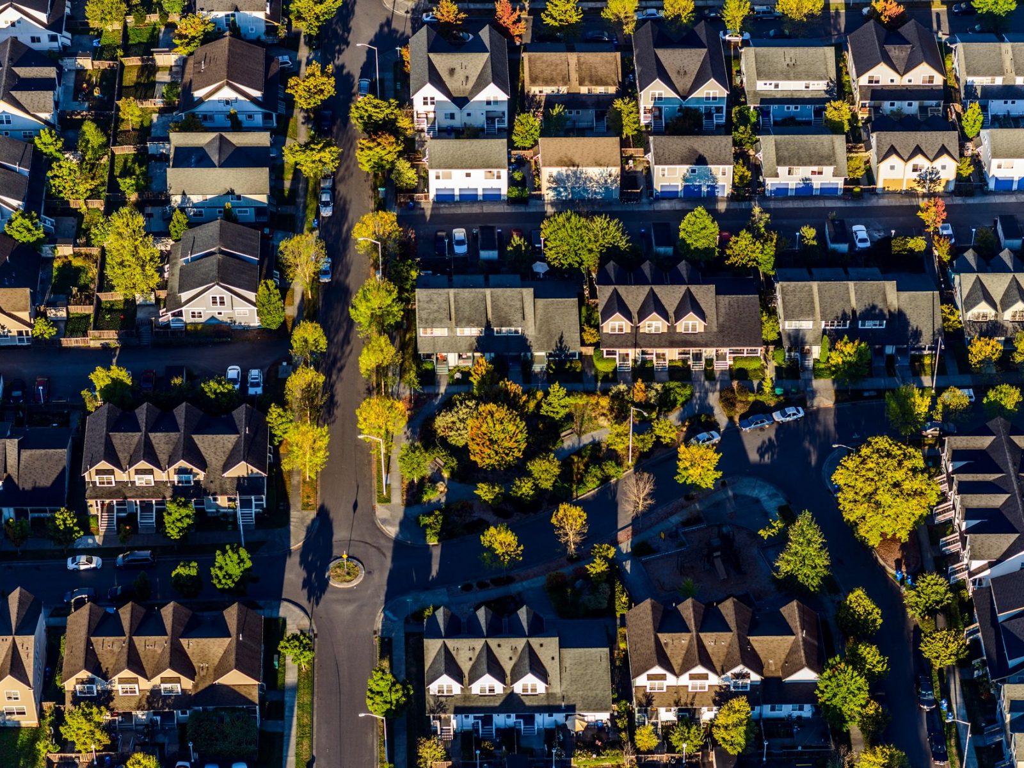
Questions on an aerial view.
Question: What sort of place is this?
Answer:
residential area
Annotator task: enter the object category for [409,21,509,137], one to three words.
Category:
house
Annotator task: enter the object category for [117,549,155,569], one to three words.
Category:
vehicle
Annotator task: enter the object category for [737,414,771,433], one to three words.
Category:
car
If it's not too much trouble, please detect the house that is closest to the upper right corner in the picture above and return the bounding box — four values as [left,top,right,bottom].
[948,33,1024,123]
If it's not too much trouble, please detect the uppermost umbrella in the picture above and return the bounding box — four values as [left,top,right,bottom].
[532,262,549,281]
